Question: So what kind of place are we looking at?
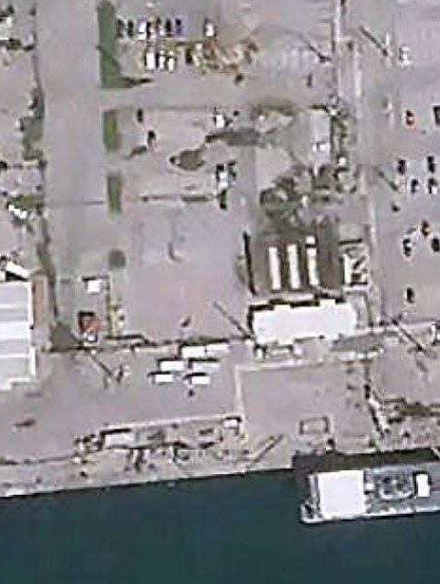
port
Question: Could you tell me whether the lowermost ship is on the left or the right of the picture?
right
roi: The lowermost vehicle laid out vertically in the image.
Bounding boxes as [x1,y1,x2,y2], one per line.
[82,313,95,342]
